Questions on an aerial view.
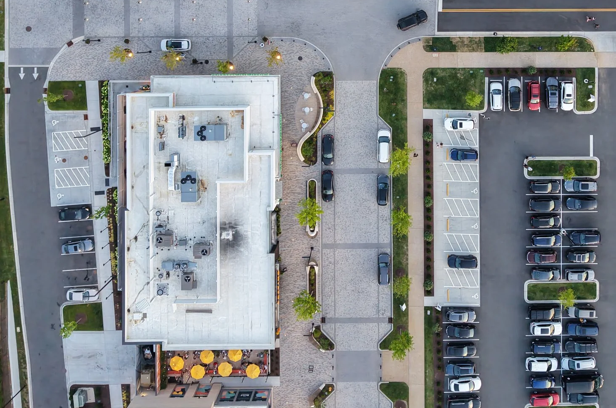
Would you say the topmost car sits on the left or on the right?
right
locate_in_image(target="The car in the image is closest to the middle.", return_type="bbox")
[320,170,335,202]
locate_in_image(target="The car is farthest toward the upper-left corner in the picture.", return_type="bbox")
[161,38,192,52]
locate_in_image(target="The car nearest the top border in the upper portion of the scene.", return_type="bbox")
[395,9,429,31]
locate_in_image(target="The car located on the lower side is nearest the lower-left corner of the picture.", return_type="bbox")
[66,287,100,303]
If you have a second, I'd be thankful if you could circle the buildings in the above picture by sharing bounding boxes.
[122,73,285,351]
[128,385,274,408]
